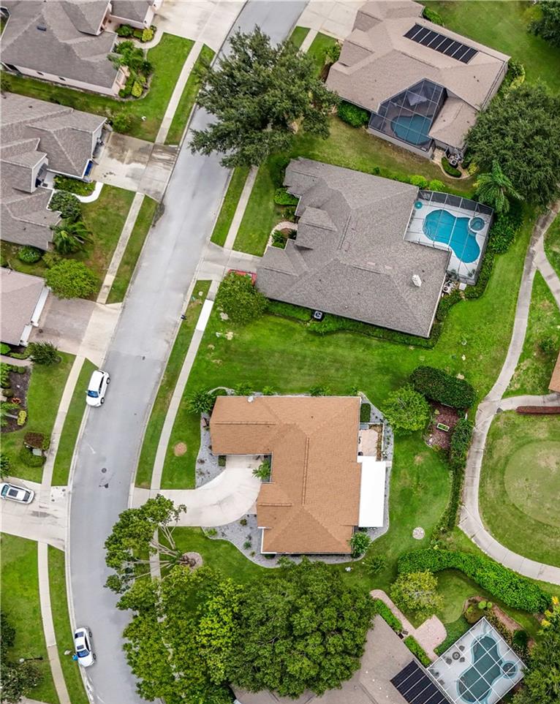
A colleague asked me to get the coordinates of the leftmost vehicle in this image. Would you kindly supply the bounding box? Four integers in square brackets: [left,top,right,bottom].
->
[0,483,37,505]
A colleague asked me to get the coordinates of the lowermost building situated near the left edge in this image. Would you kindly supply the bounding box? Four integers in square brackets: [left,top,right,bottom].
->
[0,269,55,351]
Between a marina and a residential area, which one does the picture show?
residential area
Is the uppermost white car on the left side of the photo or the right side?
left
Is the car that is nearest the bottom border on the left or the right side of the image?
left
